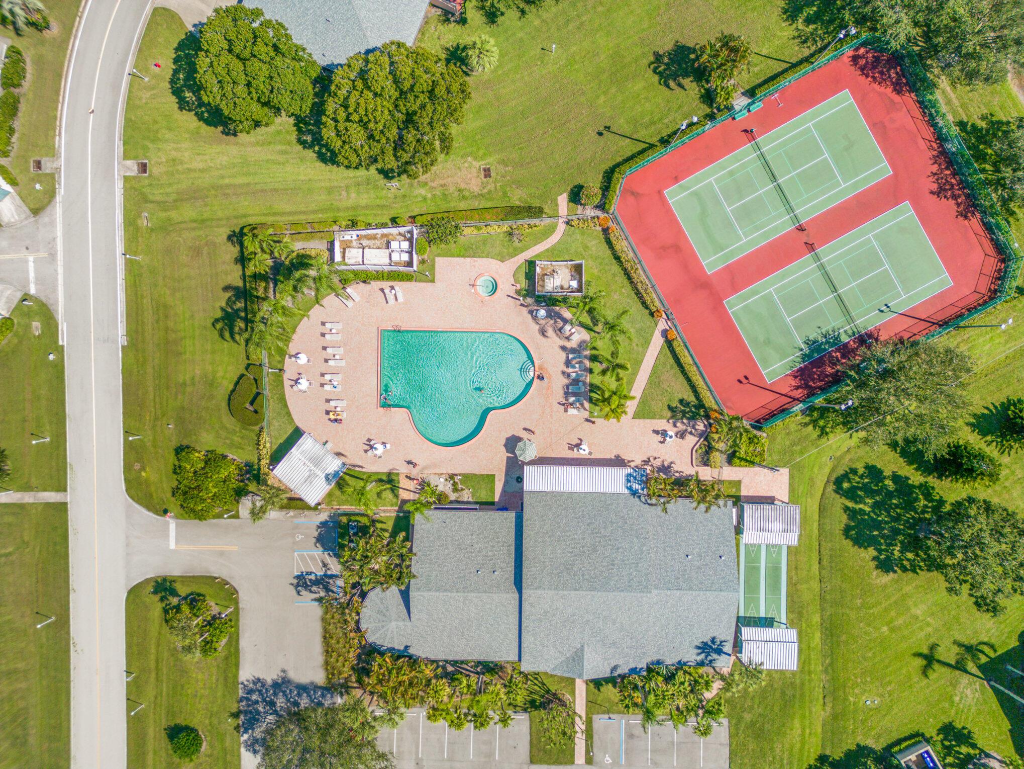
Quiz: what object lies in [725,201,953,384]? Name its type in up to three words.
tennis court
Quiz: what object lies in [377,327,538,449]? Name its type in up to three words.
swimming pool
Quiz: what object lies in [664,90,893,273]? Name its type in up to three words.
tennis court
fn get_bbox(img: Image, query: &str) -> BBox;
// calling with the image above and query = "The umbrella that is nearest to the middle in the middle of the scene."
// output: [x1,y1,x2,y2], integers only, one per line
[515,442,537,464]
